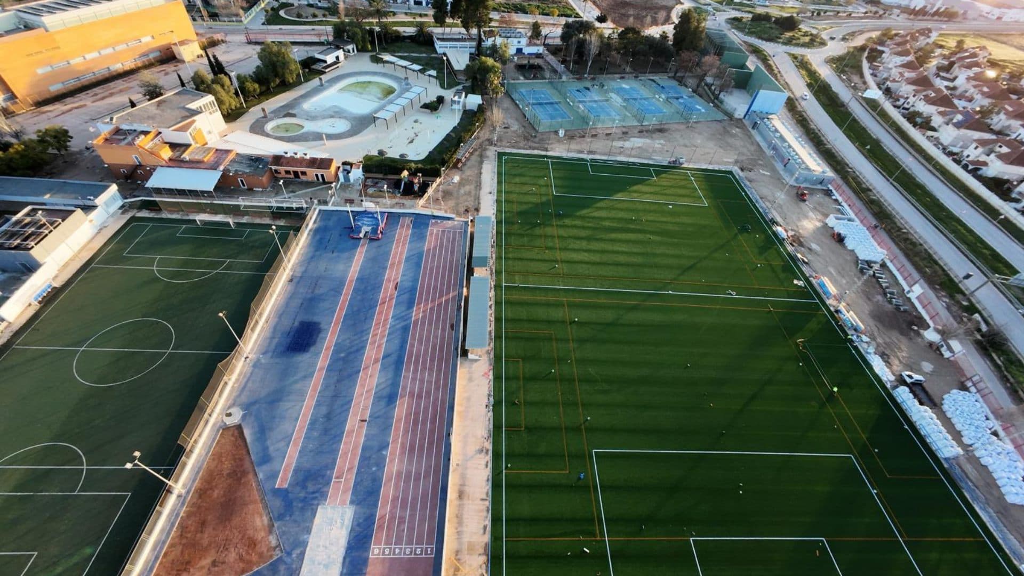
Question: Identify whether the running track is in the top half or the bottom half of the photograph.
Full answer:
The running track is in the bottom half of the image.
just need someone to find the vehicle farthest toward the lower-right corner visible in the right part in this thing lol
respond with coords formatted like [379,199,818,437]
[909,372,947,401]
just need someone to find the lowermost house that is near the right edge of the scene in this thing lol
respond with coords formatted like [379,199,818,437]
[964,170,1024,216]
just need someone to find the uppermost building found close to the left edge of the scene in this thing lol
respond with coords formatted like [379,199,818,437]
[0,0,211,114]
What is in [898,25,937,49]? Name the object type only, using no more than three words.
house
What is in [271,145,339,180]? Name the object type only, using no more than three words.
house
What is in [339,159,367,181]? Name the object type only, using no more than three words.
building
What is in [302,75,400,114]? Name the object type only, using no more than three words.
swimming pool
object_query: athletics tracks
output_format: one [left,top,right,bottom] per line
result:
[150,213,468,576]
